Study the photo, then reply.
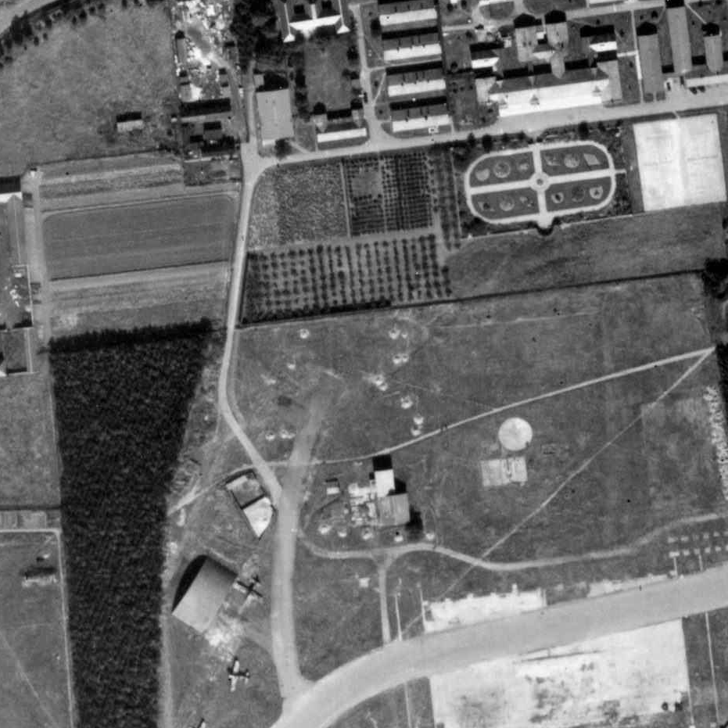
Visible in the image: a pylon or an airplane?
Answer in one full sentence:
There is an airplane in the scene.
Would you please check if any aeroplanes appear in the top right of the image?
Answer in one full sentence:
No, in the top right of the image there is no aeroplane.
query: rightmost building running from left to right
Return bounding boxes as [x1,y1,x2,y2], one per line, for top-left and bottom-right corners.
[660,67,728,89]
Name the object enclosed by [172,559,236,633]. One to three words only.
hangar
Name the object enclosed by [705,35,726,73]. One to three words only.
building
